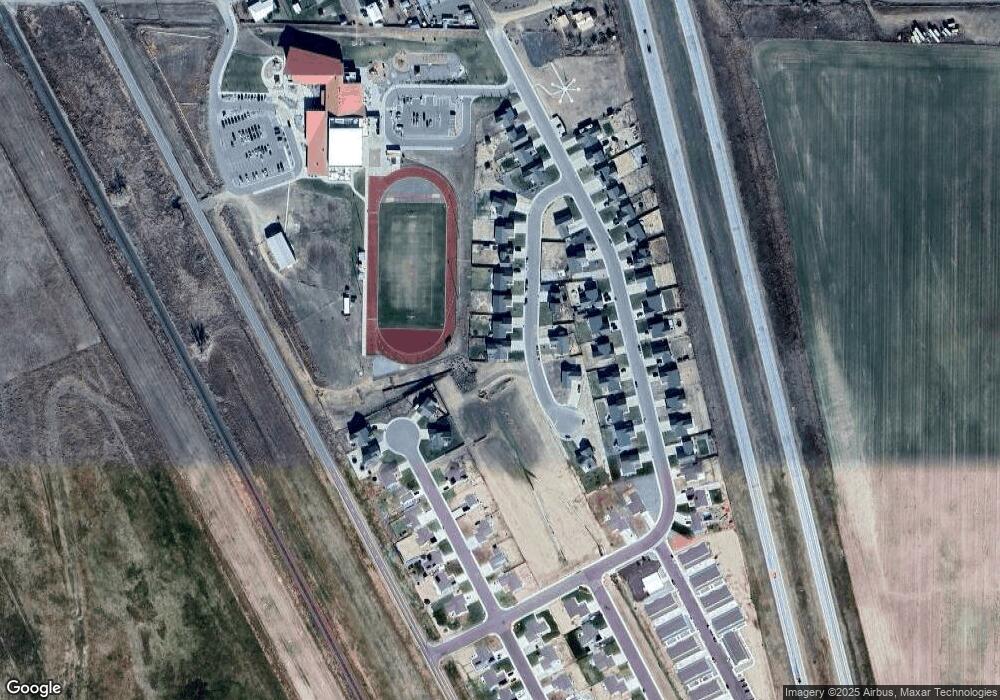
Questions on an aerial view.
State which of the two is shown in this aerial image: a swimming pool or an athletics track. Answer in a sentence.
This aerial view contains an athletics track.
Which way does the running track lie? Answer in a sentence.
In this picture, the running track lies vertically.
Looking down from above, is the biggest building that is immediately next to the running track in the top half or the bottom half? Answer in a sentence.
Seen from above, the biggest building that is immediately next to the running track lies in the top half of the view.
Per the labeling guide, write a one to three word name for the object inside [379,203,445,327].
sports field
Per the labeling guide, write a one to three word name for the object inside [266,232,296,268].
barn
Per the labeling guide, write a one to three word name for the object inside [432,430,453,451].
house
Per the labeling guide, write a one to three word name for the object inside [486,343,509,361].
house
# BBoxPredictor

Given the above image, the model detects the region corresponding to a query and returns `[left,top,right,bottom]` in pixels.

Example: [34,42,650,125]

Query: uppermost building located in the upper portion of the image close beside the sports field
[283,46,367,175]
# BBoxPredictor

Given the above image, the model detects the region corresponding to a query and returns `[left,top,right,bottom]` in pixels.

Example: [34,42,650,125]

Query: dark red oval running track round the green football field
[367,166,457,363]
